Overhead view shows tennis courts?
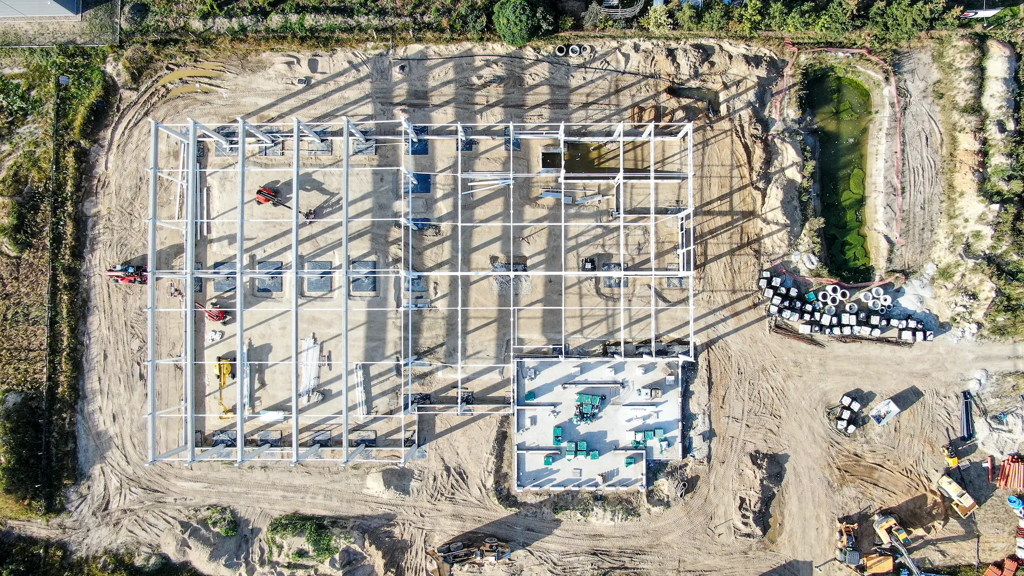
No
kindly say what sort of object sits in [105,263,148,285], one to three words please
work vehicle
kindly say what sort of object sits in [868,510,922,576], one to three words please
work vehicle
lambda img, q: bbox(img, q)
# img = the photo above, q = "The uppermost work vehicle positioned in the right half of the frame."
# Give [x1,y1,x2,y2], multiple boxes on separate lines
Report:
[940,427,962,471]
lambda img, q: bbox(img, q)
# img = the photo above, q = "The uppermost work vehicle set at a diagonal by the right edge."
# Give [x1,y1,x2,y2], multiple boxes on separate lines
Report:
[933,471,985,520]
